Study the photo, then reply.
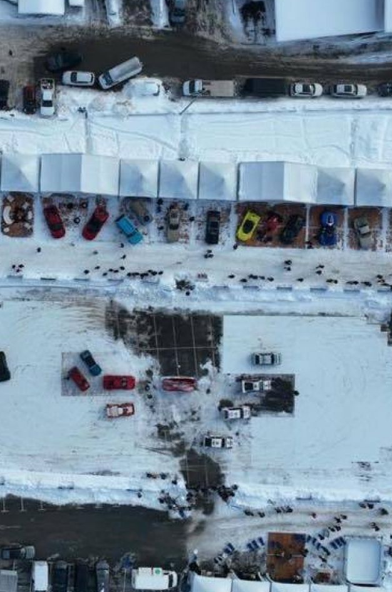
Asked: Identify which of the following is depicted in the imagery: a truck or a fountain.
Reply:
truck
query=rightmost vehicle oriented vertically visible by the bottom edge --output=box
[95,558,110,592]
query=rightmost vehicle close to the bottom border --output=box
[131,564,177,592]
